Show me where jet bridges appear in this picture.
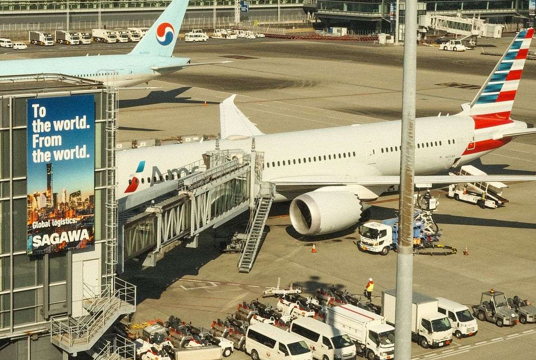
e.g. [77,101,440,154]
[415,11,497,48]
[105,133,274,278]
